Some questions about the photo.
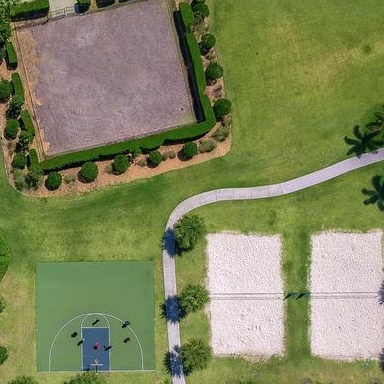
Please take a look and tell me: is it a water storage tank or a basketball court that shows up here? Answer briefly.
basketball court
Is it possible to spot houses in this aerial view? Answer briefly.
No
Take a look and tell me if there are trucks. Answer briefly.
No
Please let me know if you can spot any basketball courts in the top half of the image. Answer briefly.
No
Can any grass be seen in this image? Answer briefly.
Yes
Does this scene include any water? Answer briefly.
No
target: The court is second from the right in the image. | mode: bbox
[205,230,288,361]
